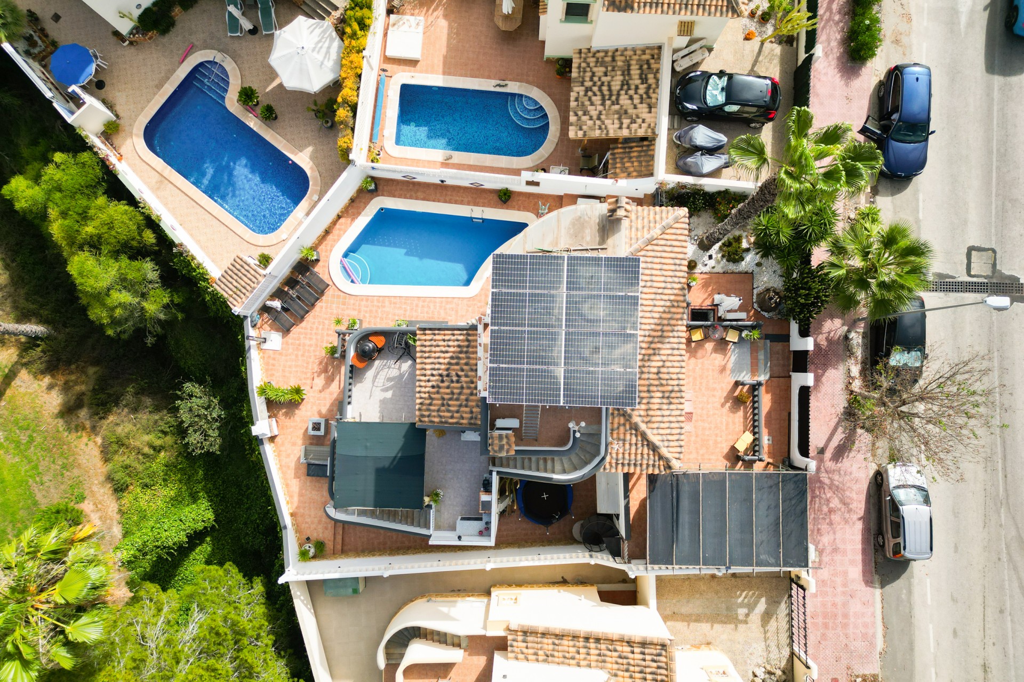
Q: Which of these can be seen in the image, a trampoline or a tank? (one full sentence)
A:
I can see a trampoline in this picture.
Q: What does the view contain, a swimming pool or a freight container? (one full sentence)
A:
I can see a swimming pool in this picture.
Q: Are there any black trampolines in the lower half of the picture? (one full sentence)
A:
Yes, a black trampoline appears in the lower half of the picture.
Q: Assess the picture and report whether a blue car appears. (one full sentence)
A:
Yes, a blue car is visible in the scene.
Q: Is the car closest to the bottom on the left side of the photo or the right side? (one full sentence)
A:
You can find the car closest to the bottom on the right side of the picture.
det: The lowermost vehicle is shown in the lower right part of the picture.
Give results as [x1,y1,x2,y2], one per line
[875,460,939,565]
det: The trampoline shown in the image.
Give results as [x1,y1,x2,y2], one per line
[517,482,574,537]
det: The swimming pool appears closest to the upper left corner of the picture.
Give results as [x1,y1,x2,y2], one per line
[130,47,319,244]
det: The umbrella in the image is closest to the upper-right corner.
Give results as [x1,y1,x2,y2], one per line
[714,295,744,317]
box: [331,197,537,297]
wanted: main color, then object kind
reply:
blue swimming pool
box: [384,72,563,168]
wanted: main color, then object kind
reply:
blue swimming pool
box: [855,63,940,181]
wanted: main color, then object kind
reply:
blue car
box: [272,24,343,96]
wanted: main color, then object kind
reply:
white umbrella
